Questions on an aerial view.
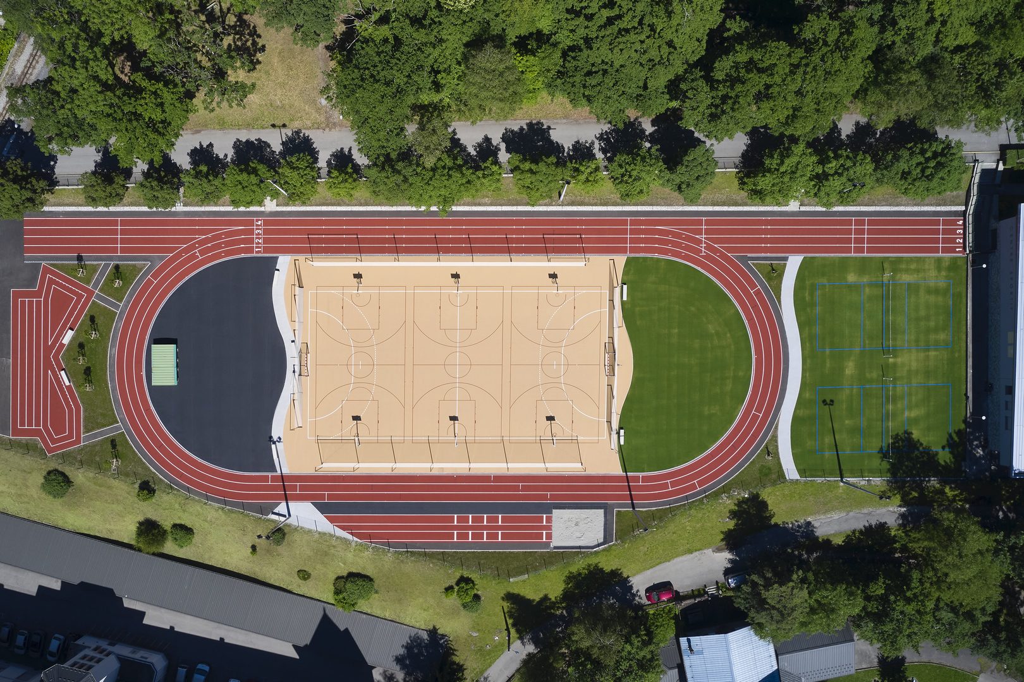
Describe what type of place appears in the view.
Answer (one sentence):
The area seen from above is a sports ground.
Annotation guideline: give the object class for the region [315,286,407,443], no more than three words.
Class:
basketball court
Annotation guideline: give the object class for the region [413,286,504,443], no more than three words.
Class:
basketball court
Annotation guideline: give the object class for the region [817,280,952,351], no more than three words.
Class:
sports court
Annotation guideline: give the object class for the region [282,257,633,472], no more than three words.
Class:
sports court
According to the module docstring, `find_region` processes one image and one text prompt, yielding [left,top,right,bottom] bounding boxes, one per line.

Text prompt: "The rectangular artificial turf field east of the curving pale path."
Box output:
[790,256,967,478]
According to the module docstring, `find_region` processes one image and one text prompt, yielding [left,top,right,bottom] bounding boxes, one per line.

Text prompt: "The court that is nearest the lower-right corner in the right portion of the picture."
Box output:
[817,384,952,454]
